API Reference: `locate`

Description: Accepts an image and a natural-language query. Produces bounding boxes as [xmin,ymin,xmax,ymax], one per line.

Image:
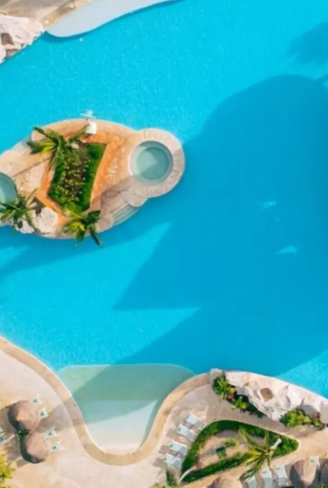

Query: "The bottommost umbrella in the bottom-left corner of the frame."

[21,430,59,465]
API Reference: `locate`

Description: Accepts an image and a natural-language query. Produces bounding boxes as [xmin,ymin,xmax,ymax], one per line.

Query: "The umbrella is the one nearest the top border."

[11,396,48,430]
